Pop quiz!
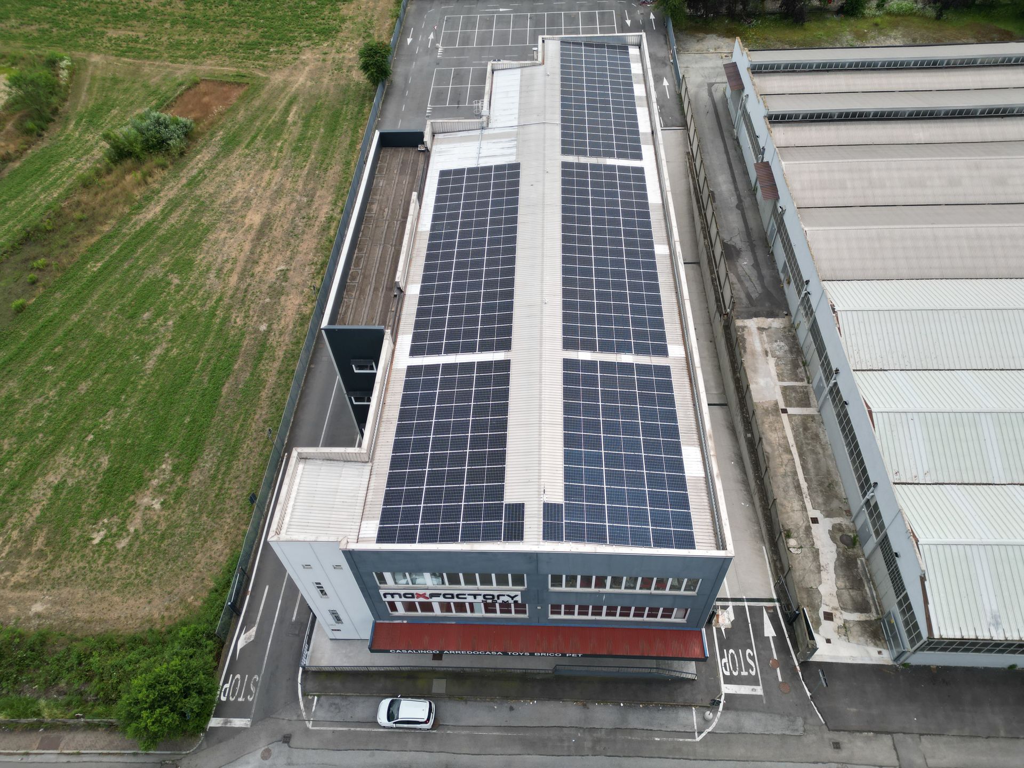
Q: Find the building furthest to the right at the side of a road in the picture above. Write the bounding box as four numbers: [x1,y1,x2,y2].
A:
[723,36,1024,670]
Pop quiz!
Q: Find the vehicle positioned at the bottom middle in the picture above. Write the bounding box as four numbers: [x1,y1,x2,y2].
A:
[376,693,436,730]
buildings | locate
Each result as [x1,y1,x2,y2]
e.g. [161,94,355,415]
[269,32,735,664]
[723,36,1024,670]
